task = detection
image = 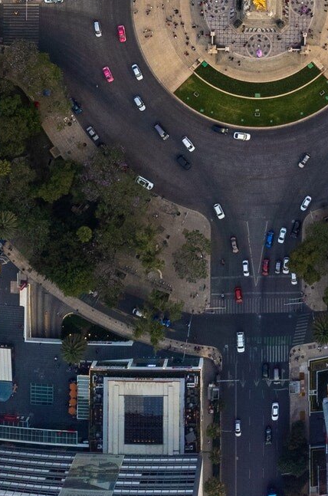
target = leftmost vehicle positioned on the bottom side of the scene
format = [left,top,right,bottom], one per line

[128,306,145,319]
